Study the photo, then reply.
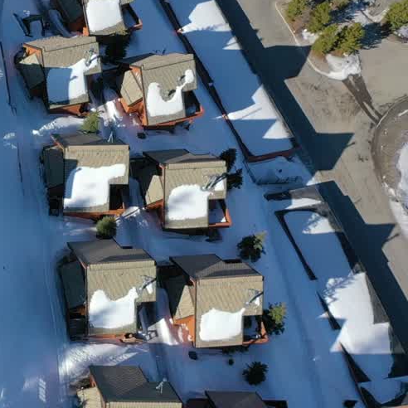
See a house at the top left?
Yes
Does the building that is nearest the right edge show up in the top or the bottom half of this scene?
bottom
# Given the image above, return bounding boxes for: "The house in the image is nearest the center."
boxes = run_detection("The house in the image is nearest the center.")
[123,147,236,243]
